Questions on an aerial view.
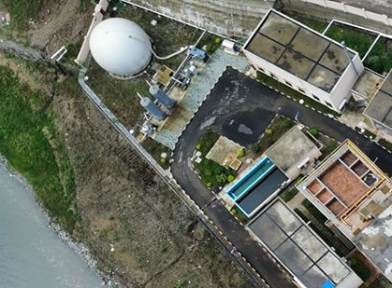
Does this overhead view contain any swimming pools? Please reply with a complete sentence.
Yes, there's a swimming pool down there.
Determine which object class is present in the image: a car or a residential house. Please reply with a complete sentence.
The one in the frame is a residential house.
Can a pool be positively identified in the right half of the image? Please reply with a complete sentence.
Yes, a pool can be seen in the right half of the image.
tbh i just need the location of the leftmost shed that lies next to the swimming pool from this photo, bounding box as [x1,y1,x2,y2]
[206,135,243,169]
